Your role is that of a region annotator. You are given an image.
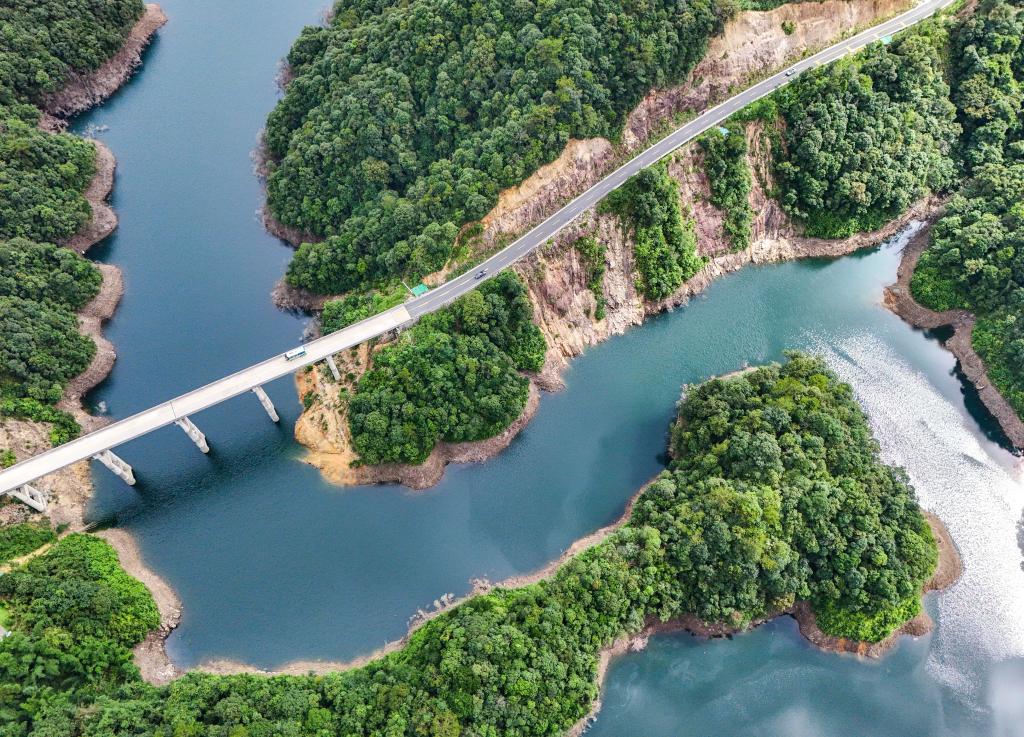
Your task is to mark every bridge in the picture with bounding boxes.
[0,302,413,516]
